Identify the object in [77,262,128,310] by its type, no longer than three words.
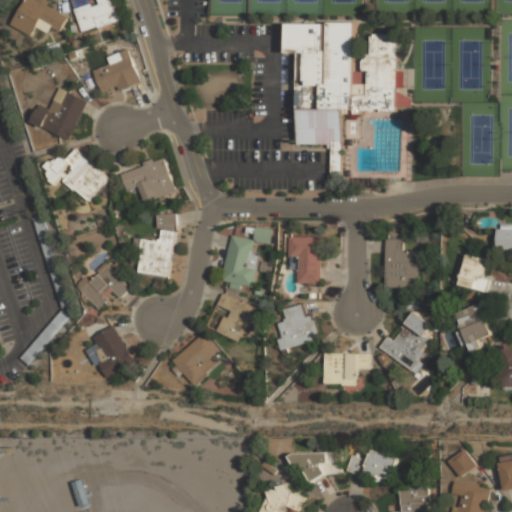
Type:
house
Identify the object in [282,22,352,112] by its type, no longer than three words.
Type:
building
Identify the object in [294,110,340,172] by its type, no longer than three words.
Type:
building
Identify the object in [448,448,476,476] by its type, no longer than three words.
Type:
house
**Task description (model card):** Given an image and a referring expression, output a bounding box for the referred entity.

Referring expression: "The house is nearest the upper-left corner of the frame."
[9,0,69,36]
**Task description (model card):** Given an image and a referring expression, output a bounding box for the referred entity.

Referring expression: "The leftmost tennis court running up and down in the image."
[415,27,452,102]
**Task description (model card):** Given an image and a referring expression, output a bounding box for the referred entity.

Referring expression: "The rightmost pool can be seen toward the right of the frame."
[478,216,502,230]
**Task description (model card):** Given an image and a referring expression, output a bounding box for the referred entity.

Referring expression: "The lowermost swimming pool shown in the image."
[284,272,298,294]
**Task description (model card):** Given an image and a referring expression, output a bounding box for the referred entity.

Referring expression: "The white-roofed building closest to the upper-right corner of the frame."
[346,33,411,119]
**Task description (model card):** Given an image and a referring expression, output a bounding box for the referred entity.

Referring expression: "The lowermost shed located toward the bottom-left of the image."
[70,480,90,506]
